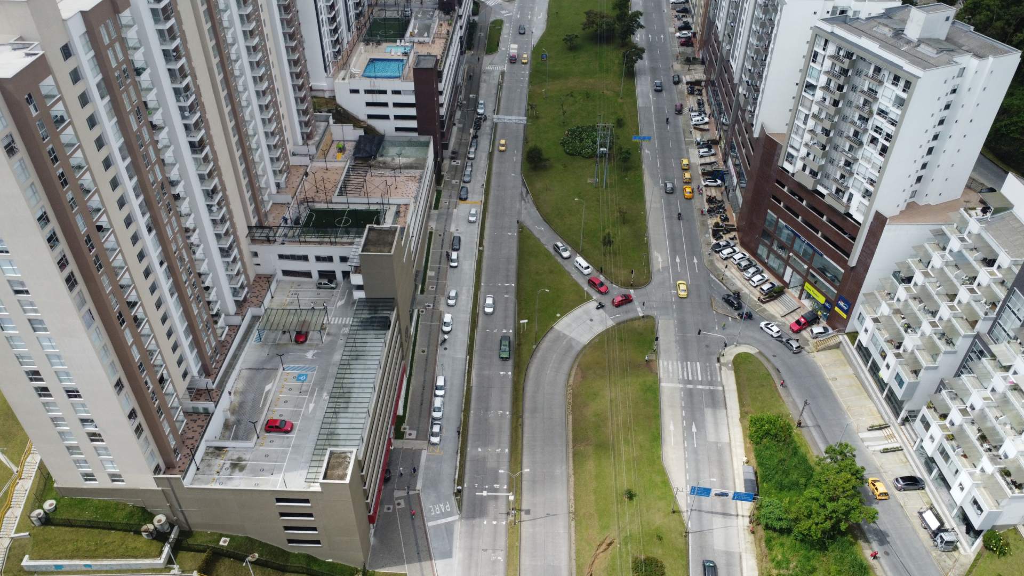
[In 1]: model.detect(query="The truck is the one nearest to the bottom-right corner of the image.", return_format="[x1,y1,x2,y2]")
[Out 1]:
[913,505,961,552]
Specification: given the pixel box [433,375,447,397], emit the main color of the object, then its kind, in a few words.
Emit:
white car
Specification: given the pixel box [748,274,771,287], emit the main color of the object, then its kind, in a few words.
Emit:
white vehicle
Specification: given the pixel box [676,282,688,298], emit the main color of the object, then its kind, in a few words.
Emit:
yellow vehicle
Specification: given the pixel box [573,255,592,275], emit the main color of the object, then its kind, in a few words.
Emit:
white vehicle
